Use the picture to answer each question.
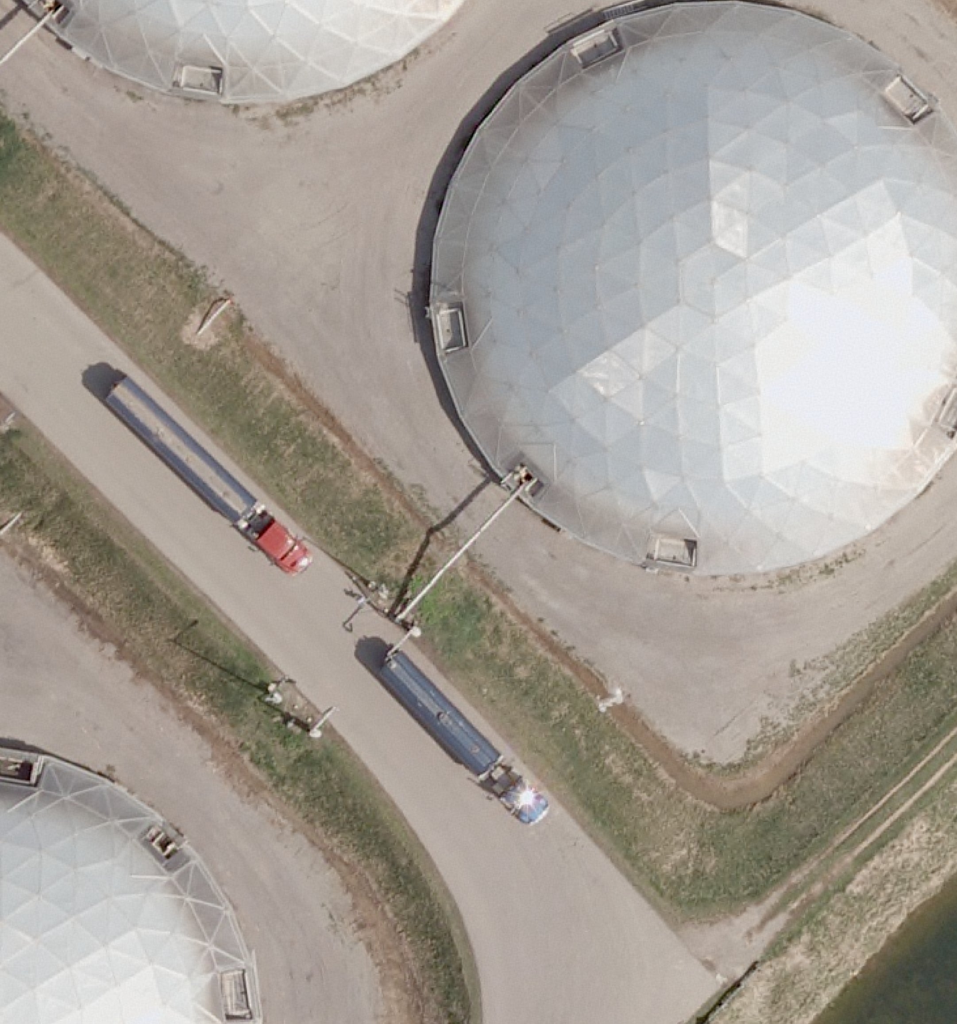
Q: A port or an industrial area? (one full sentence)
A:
The area seen from above is an industrial area.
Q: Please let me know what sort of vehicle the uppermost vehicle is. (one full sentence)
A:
I'd say the uppermost vehicle is a truck.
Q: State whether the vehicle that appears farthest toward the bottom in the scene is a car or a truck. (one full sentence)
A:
Looking closely, the vehicle that appears farthest toward the bottom is a truck.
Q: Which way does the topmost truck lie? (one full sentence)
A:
The topmost truck has been laid out on a diagonal relative to the frame.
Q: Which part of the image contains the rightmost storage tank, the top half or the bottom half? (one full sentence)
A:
The top half of the photo is where the rightmost storage tank is.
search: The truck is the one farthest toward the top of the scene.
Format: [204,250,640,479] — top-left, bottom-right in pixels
[108,378,312,577]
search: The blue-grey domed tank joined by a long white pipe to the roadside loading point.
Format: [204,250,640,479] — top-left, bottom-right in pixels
[426,0,957,575]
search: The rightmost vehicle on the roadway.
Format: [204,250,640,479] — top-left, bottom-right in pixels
[381,650,548,825]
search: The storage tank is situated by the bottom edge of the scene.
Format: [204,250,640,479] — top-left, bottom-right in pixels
[0,745,266,1024]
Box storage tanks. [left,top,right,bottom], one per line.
[426,0,957,575]
[0,745,266,1024]
[35,0,472,102]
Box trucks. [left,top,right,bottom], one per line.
[108,378,312,577]
[381,650,548,825]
